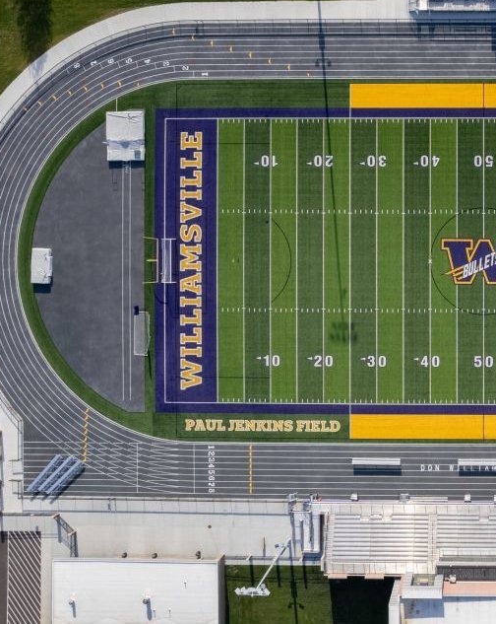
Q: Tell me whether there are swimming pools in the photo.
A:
No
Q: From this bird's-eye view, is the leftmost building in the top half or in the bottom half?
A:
bottom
